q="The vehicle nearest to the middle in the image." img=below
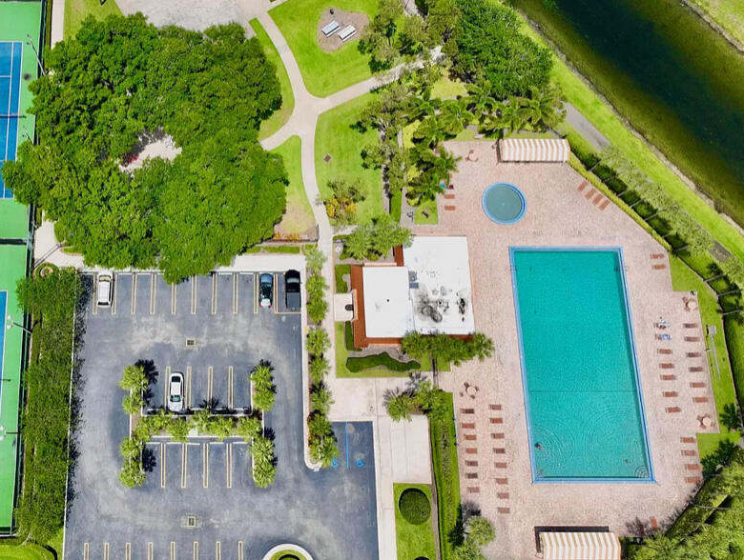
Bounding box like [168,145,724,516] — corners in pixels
[284,269,302,311]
